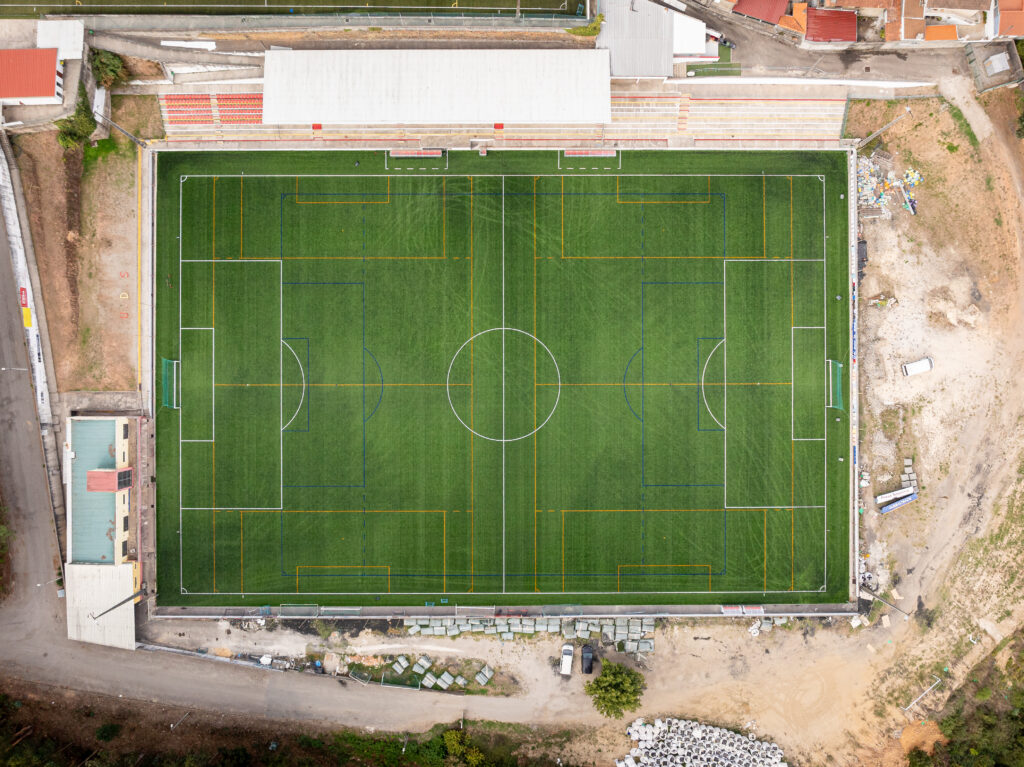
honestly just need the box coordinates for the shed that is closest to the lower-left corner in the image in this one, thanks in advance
[65,559,147,650]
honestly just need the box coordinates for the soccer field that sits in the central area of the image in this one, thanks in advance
[157,151,850,607]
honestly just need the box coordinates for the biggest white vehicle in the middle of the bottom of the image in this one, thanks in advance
[560,642,574,675]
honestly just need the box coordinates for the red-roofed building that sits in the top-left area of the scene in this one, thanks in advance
[0,48,68,104]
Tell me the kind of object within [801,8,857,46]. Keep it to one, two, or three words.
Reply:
house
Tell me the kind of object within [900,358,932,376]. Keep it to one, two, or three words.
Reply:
vehicle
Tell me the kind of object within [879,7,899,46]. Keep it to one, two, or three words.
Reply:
house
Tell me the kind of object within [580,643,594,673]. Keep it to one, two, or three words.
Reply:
car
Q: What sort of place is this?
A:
sports ground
